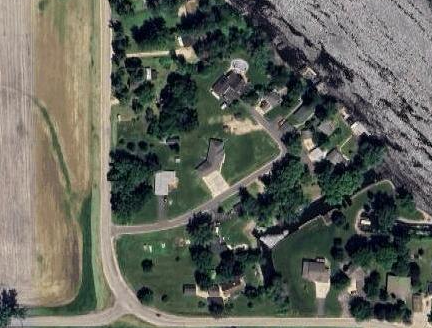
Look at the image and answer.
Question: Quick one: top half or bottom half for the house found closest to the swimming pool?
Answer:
top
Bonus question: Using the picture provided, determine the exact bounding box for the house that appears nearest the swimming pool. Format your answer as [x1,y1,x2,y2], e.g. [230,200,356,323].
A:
[212,65,241,102]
